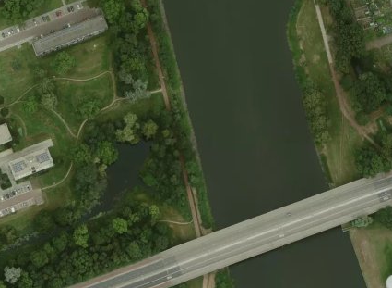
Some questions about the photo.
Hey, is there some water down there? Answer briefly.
Yes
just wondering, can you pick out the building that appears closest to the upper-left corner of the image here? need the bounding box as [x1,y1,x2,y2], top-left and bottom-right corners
[32,16,107,57]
